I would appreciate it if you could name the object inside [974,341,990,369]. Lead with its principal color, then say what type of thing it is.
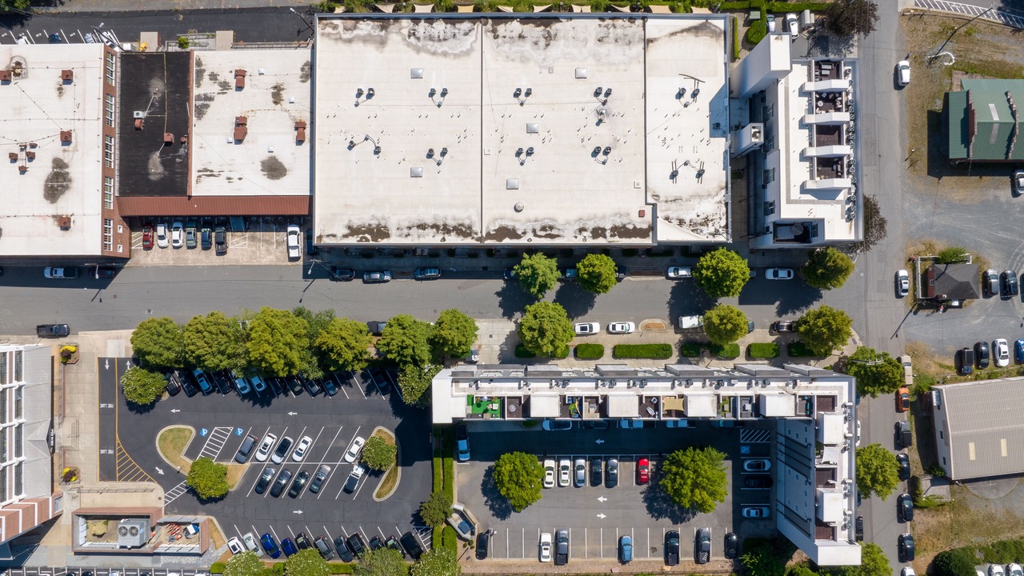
black car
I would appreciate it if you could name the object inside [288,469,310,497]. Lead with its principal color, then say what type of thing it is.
black car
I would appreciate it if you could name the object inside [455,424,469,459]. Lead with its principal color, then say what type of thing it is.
blue vehicle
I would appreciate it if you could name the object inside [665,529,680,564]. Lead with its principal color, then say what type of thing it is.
black vehicle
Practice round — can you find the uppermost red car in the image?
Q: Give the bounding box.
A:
[140,222,156,250]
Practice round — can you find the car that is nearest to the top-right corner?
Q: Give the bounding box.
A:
[896,60,912,88]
